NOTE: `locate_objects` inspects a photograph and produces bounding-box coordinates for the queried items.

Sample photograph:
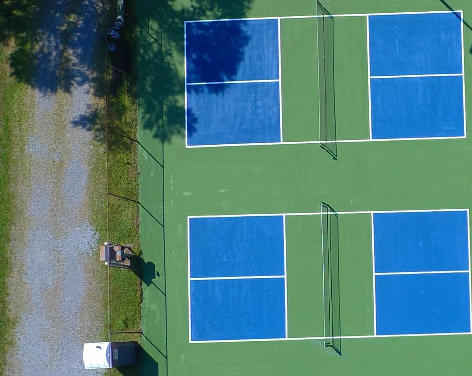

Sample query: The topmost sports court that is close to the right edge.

[369,12,462,76]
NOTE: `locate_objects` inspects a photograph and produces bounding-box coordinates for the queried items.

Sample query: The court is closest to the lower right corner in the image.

[375,271,472,335]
